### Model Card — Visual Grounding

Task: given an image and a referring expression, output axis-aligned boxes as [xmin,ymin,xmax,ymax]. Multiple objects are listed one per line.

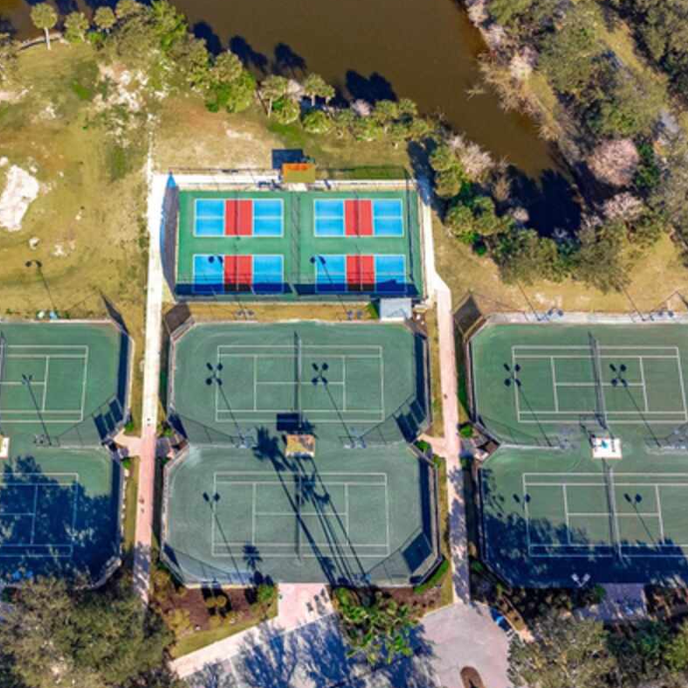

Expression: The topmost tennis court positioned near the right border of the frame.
[471,320,688,447]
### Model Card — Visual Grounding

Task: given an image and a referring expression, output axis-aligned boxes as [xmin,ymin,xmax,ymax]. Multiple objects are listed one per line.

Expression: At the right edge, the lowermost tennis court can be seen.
[479,446,688,585]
